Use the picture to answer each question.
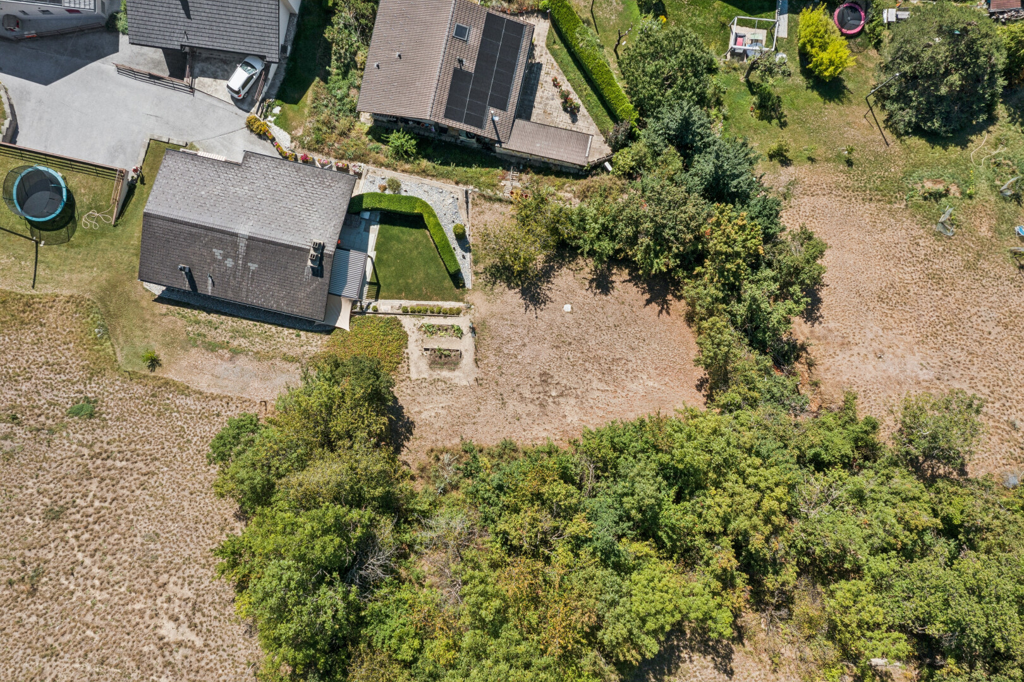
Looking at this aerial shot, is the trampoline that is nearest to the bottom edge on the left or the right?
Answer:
left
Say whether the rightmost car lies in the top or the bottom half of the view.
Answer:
top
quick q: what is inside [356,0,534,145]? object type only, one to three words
house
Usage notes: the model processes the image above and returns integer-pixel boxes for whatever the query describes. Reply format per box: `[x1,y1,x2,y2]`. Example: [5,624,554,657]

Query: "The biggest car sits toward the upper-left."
[227,55,264,101]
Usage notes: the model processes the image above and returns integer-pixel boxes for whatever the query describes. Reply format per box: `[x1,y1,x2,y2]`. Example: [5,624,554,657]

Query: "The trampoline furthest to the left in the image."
[0,161,72,221]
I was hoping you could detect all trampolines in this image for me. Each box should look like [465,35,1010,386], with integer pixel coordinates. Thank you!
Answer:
[0,161,72,221]
[833,0,873,37]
